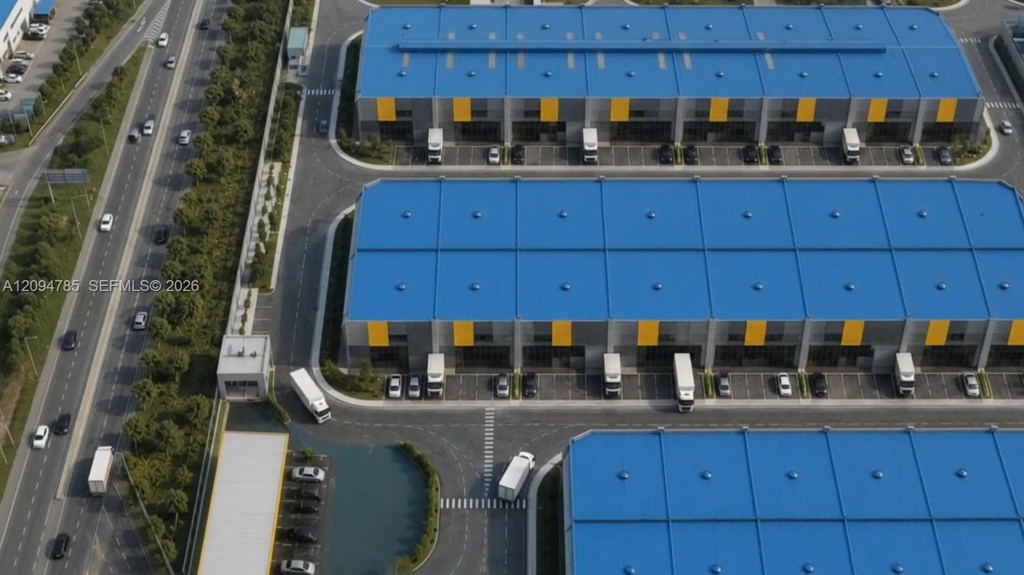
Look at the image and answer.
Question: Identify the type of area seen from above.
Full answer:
The picture captures an industrial area.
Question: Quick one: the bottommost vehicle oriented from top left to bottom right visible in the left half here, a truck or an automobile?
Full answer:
It looks like the bottommost vehicle oriented from top left to bottom right visible in the left half is a truck.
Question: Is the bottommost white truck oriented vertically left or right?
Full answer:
The bottommost white truck oriented vertically sits on the left side.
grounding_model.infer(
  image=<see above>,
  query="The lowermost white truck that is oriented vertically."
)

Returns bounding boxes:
[84,448,117,504]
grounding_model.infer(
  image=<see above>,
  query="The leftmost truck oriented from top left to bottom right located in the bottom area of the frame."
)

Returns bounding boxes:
[290,365,338,430]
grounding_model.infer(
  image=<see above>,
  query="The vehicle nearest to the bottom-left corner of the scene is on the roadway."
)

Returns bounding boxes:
[50,535,69,562]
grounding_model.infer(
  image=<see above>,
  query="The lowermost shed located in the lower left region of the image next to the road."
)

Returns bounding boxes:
[199,432,290,575]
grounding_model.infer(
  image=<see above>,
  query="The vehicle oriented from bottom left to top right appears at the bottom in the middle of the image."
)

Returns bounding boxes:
[496,449,539,506]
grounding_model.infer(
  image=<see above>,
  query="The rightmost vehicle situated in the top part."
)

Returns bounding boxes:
[998,120,1015,136]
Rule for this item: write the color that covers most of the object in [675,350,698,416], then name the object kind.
white truck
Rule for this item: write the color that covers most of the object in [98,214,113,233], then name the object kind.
white car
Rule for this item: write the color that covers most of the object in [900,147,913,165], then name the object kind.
gray vehicle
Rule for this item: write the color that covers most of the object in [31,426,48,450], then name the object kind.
white car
